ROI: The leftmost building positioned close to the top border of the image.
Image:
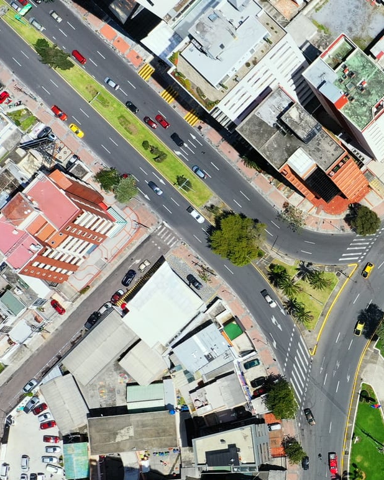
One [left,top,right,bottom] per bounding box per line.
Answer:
[87,0,160,60]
